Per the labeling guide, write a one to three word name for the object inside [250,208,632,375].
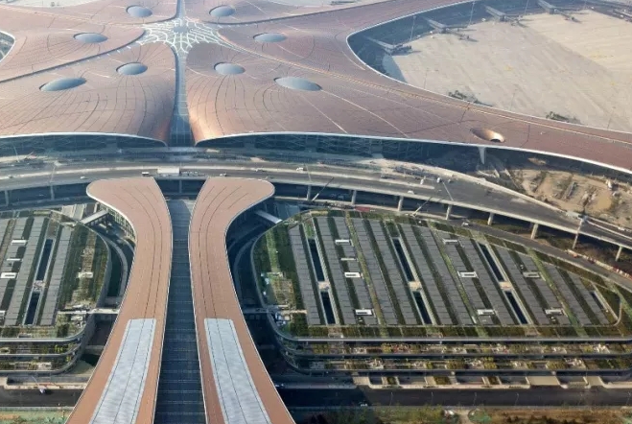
building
